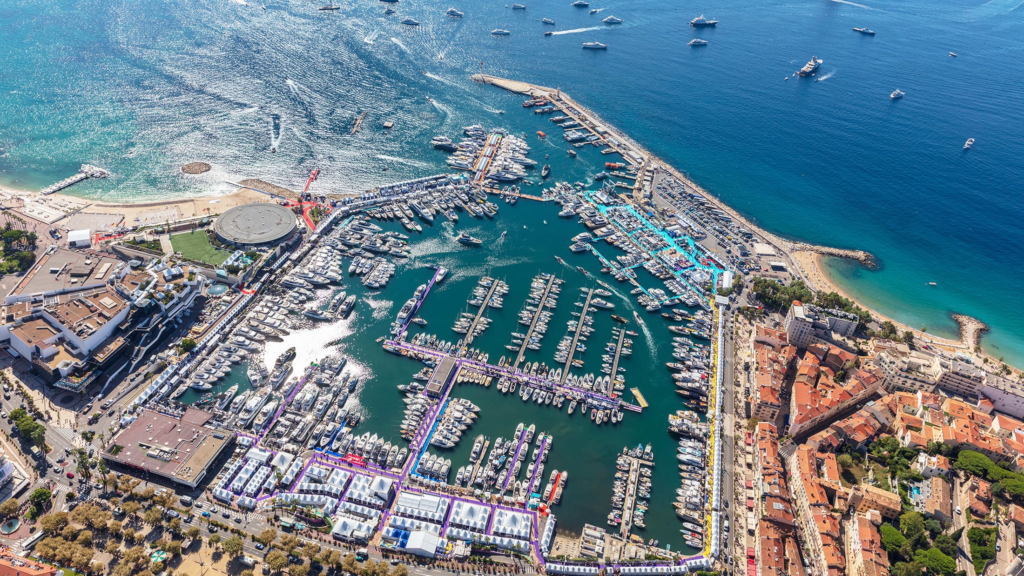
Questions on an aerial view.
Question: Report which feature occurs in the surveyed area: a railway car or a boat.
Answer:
boat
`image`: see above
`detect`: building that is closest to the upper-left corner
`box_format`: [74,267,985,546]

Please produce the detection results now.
[21,202,65,228]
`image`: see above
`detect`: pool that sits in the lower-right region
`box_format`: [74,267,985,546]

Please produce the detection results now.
[908,480,927,508]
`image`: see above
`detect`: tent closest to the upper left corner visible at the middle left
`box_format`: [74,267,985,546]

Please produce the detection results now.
[67,230,93,248]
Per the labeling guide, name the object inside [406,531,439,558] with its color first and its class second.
white tent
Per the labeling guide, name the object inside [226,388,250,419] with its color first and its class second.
white boat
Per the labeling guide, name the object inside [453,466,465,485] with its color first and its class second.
white boat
